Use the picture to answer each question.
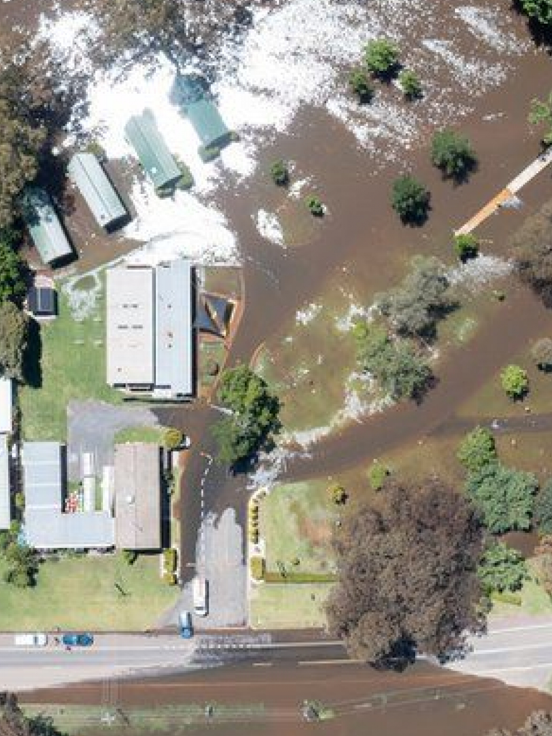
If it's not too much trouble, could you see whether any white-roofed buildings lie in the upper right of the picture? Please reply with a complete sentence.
No, in the upper right of the picture there is no white-roofed building.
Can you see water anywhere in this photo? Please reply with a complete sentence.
Yes, the picture does contain water.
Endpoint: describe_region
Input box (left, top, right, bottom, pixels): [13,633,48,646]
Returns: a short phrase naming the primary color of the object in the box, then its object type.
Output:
white vehicle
